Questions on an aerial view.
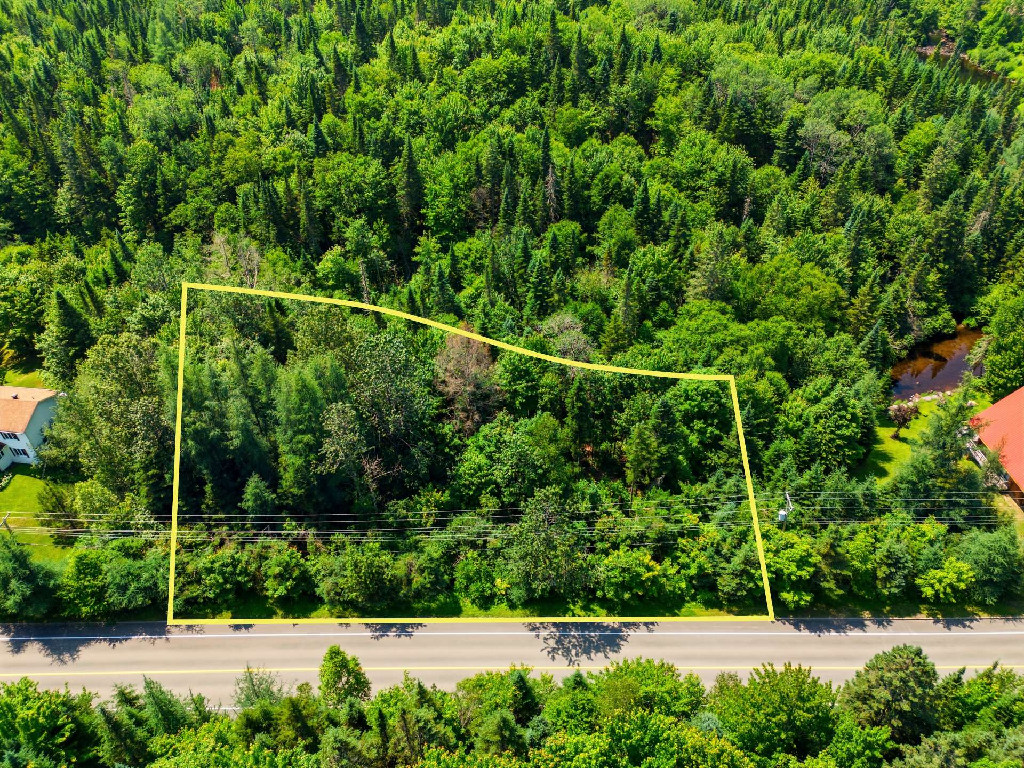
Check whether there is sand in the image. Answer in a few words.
No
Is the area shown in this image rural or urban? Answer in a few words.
rural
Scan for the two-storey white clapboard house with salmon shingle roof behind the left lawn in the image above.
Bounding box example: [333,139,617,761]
[0,387,68,472]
